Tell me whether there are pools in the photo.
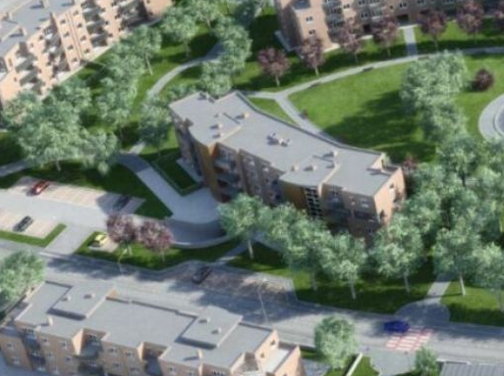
No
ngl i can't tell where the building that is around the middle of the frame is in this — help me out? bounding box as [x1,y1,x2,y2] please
[169,92,405,241]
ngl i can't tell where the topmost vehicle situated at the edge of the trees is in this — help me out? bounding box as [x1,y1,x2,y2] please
[29,177,49,193]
